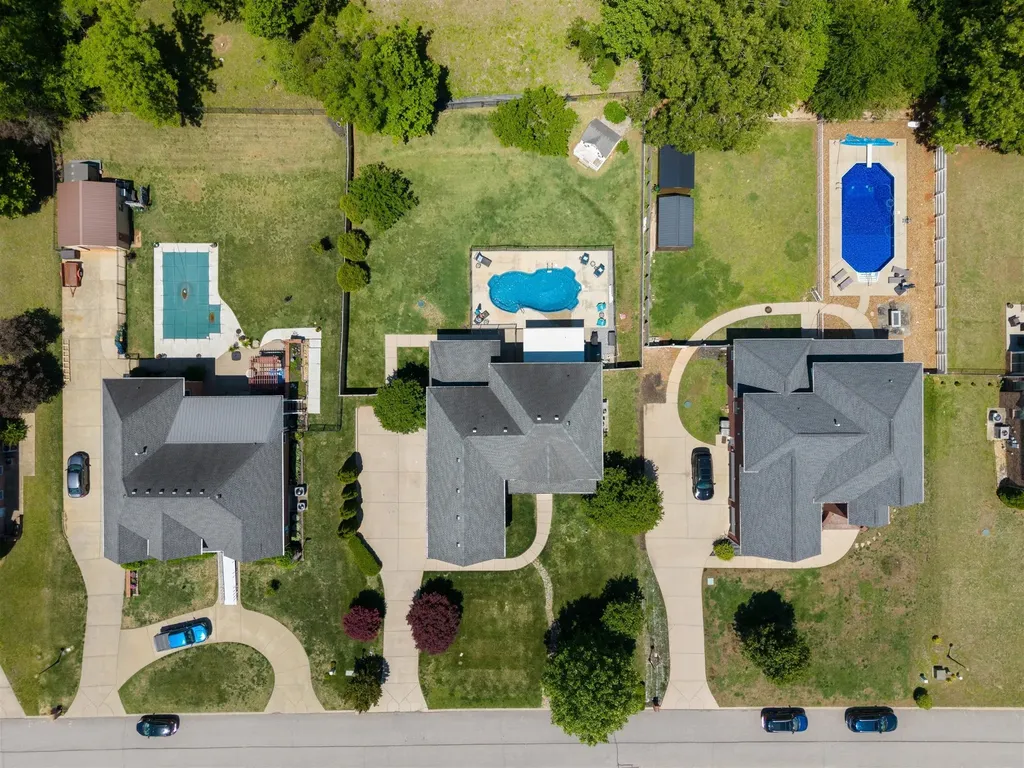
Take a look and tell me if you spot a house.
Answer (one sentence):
Yes, I can see a house in this picture.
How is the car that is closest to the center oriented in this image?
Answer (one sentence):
The car that is closest to the center has been laid out up and down relative to the frame.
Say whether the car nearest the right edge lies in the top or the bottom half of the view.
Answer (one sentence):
The car nearest the right edge is in the bottom half of the image.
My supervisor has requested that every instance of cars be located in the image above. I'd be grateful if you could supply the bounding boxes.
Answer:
[136,716,178,740]
[691,448,716,499]
[64,451,90,498]
[846,709,897,735]
[762,709,807,734]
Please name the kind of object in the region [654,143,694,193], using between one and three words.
shed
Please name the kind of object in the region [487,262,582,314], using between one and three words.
swimming pool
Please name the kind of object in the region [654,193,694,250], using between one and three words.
shed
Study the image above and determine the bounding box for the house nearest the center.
[426,339,604,569]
